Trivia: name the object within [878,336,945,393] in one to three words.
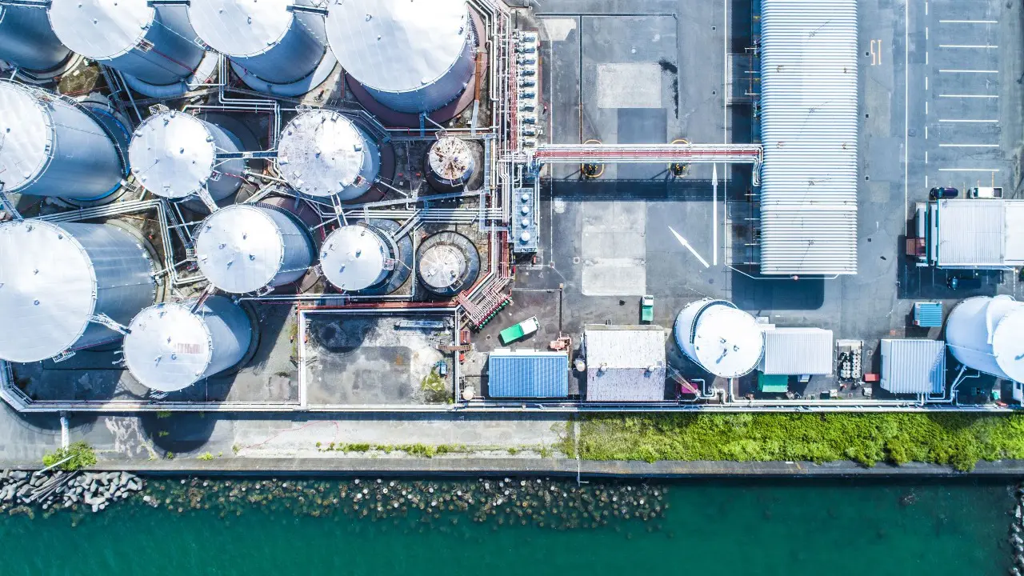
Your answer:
shed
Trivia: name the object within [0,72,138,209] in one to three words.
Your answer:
storage tank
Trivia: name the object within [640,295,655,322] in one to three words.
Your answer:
vehicle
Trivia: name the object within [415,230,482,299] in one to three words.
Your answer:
storage tank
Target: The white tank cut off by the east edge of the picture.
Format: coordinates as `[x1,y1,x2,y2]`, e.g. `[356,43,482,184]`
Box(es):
[942,288,1024,389]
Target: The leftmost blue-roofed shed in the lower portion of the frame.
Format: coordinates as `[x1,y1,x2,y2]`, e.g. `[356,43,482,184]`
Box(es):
[487,349,568,398]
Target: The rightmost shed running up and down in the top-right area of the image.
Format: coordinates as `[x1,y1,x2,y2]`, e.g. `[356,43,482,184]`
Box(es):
[746,0,857,275]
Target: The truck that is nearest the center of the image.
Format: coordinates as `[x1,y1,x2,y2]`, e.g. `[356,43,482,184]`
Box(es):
[497,315,540,346]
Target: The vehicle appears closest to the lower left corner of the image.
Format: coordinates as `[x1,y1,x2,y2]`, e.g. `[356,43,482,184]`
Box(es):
[431,359,452,379]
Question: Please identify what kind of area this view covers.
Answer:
industrial area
